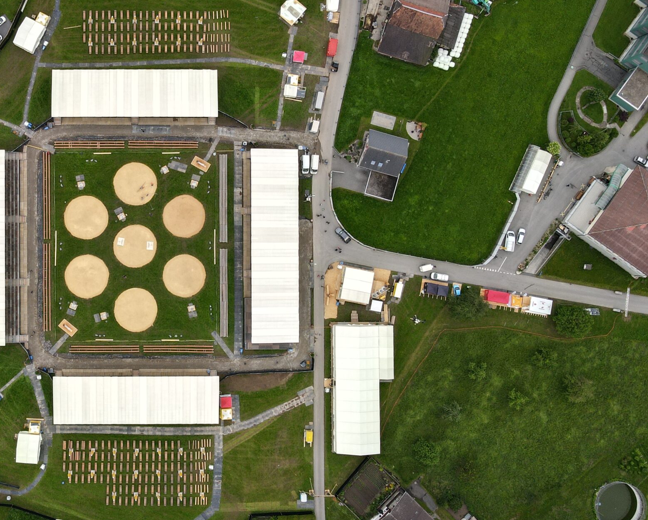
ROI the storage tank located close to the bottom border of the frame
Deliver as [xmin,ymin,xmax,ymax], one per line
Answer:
[593,480,648,520]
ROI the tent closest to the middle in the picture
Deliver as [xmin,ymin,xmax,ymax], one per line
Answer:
[336,265,376,305]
